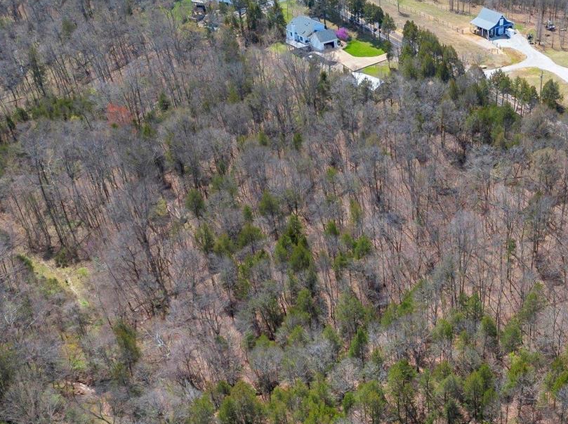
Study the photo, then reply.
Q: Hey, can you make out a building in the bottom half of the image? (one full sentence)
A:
No, there's no building to be seen in the bottom half of the image.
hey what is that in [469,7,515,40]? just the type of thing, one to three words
barn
